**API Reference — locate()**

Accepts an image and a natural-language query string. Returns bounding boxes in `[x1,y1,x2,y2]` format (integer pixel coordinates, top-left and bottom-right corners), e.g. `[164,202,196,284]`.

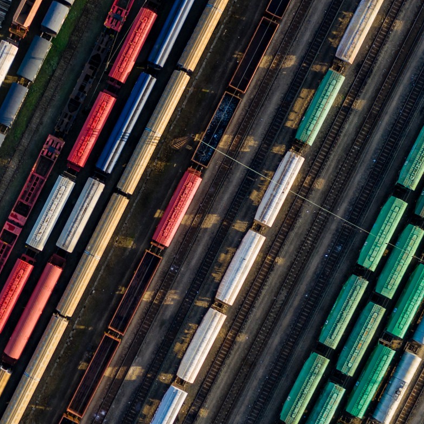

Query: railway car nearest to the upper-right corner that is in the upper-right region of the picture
[328,0,382,72]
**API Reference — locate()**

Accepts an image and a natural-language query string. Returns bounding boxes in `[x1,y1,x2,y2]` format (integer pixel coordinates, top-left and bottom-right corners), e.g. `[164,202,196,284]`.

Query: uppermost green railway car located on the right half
[289,67,345,151]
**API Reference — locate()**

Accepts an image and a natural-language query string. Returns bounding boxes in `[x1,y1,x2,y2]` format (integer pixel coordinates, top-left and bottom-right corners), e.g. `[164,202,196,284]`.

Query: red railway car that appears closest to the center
[149,166,202,250]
